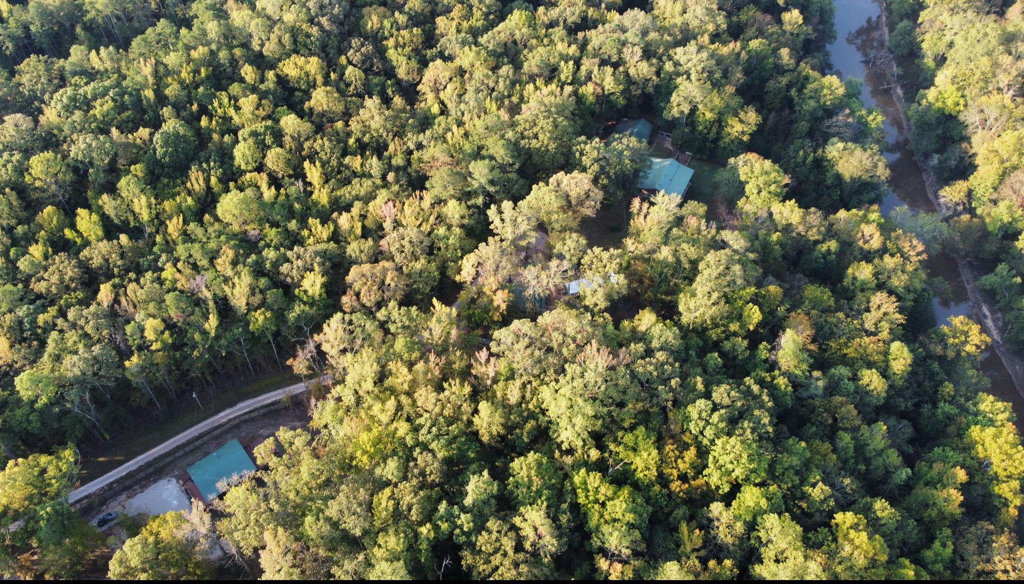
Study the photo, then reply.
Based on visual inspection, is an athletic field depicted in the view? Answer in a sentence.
No, no athletic field is visible in the scene.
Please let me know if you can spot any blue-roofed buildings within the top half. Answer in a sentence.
Yes, there is a blue-roofed building within the top half.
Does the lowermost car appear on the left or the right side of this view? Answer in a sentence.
The lowermost car is on the left side of the image.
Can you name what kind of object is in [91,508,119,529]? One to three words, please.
car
